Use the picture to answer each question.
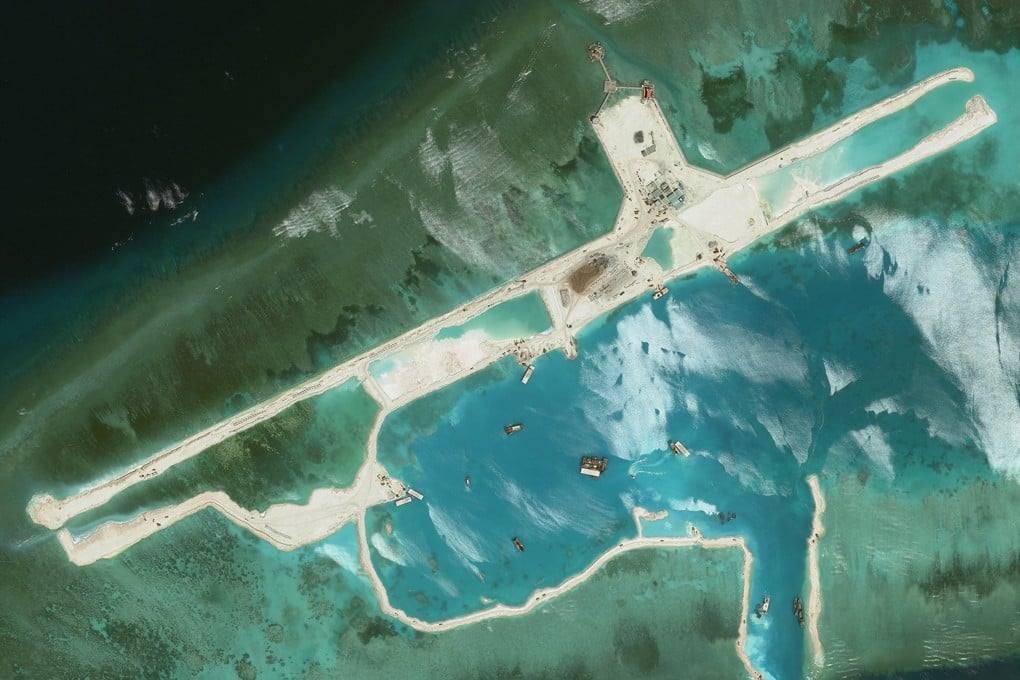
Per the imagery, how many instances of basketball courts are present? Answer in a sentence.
I count no basketball courts.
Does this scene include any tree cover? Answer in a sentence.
No, tree cover can't be seen anywhere here.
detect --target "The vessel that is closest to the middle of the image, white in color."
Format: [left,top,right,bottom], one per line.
[521,363,534,383]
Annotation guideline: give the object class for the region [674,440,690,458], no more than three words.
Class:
ship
